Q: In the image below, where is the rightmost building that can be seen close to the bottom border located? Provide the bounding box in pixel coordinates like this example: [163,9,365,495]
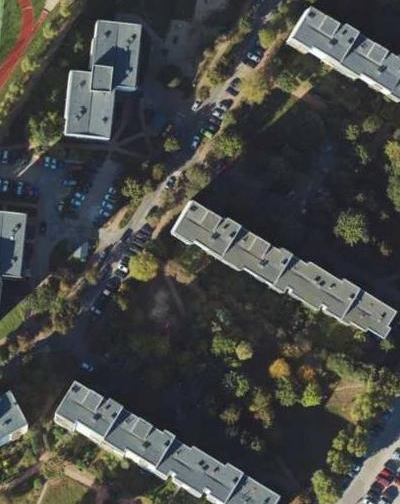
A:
[56,382,283,504]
